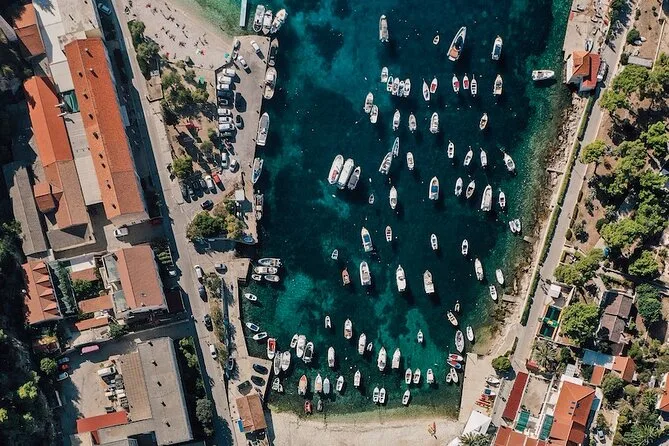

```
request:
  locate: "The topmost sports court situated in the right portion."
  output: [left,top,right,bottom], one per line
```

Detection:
[540,304,568,343]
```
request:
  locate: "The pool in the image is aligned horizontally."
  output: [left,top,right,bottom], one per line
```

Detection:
[581,349,610,366]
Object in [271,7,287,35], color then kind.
white boat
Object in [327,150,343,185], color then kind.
white boat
